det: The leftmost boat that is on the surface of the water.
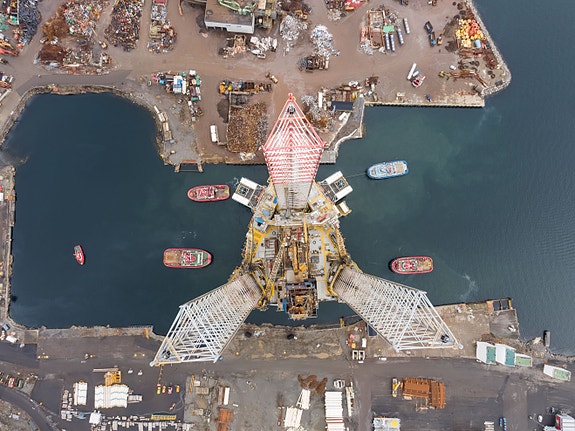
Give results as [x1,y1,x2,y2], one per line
[70,245,84,265]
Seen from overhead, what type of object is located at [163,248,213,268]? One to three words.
boat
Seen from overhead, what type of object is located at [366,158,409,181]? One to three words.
boat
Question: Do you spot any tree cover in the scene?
No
